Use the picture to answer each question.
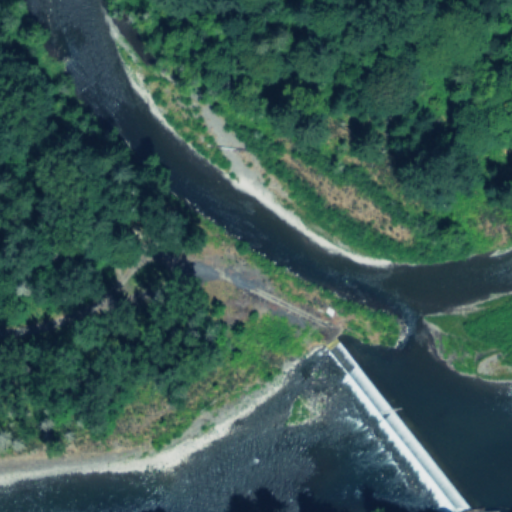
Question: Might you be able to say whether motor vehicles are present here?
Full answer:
No, there isn't any motor vehicle down there.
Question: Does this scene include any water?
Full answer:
Yes, water can be seen from above here.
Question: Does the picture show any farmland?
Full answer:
No, the picture contains no farmland.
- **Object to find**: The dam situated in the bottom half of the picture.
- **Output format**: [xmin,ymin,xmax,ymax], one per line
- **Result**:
[326,338,501,512]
